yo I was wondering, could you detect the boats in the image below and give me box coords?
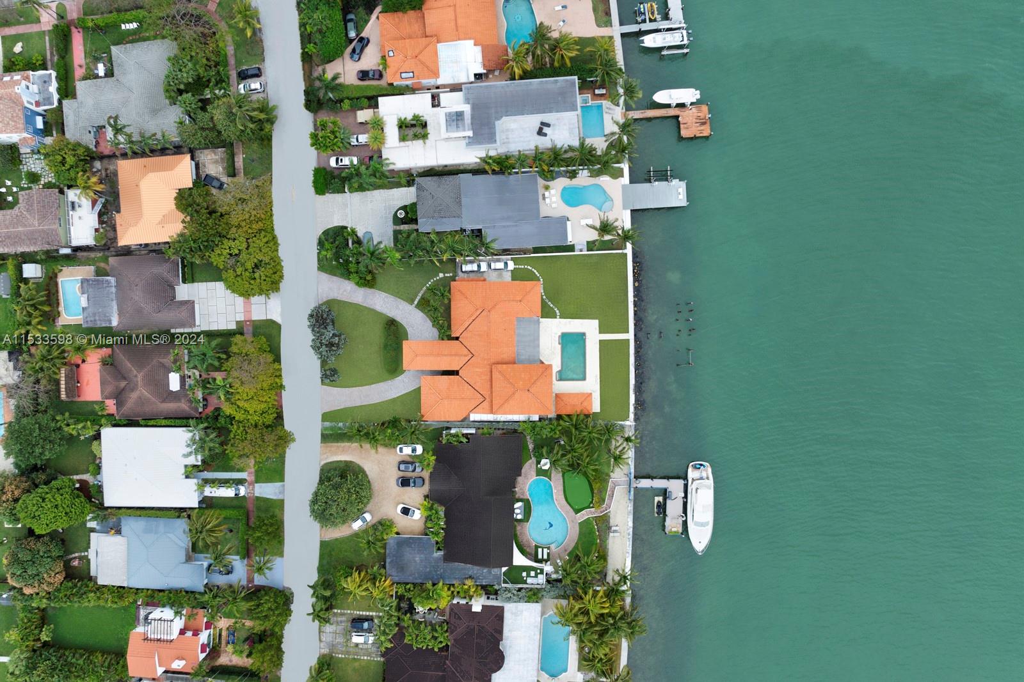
[637,0,645,20]
[637,31,689,50]
[656,500,662,517]
[686,461,713,555]
[653,89,698,105]
[648,0,656,21]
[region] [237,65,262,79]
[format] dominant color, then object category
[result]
black car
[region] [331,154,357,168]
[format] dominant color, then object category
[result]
white car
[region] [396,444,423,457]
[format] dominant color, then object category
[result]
white vehicle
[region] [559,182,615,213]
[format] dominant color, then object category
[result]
blue swimming pool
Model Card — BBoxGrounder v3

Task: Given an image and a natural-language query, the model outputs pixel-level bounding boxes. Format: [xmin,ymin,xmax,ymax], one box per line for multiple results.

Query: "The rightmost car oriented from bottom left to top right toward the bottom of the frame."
[350,511,373,532]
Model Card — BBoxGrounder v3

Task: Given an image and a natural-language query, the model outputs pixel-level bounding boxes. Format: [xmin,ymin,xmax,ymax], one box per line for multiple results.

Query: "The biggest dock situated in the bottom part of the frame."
[632,476,686,536]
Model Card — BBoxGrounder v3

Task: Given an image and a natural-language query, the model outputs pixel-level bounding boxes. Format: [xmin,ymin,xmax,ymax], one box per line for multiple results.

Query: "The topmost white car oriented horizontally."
[237,80,264,93]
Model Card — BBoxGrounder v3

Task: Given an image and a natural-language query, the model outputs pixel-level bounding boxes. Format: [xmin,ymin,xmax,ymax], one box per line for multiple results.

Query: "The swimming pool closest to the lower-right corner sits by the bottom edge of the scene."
[540,611,572,680]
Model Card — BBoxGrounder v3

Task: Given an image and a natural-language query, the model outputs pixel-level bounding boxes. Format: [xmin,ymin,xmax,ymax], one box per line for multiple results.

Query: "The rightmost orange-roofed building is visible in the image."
[555,393,592,414]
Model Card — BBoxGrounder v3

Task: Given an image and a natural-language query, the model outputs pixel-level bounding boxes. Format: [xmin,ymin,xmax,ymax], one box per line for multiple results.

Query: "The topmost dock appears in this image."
[619,0,684,34]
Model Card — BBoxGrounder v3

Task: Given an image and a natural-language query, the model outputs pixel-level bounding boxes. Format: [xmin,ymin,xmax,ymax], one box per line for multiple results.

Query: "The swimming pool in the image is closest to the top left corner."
[58,277,82,319]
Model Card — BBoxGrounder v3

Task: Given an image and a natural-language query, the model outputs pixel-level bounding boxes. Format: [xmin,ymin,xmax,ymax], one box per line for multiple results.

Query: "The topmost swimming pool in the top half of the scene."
[501,0,539,54]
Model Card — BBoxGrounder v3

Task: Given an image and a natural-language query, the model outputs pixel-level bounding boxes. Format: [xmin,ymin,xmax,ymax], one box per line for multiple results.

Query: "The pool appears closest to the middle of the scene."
[556,331,587,382]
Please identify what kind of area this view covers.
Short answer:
residential area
